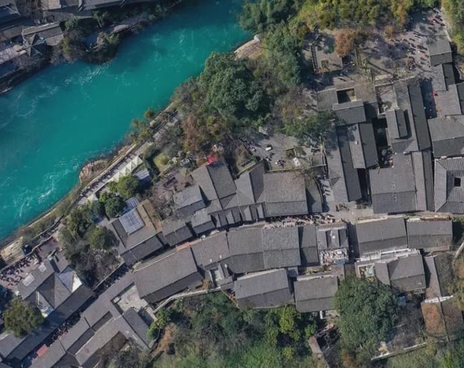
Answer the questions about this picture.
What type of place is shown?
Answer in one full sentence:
It's a residential area.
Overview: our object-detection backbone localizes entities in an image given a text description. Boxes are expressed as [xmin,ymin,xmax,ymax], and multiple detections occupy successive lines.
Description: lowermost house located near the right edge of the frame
[421,296,464,339]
